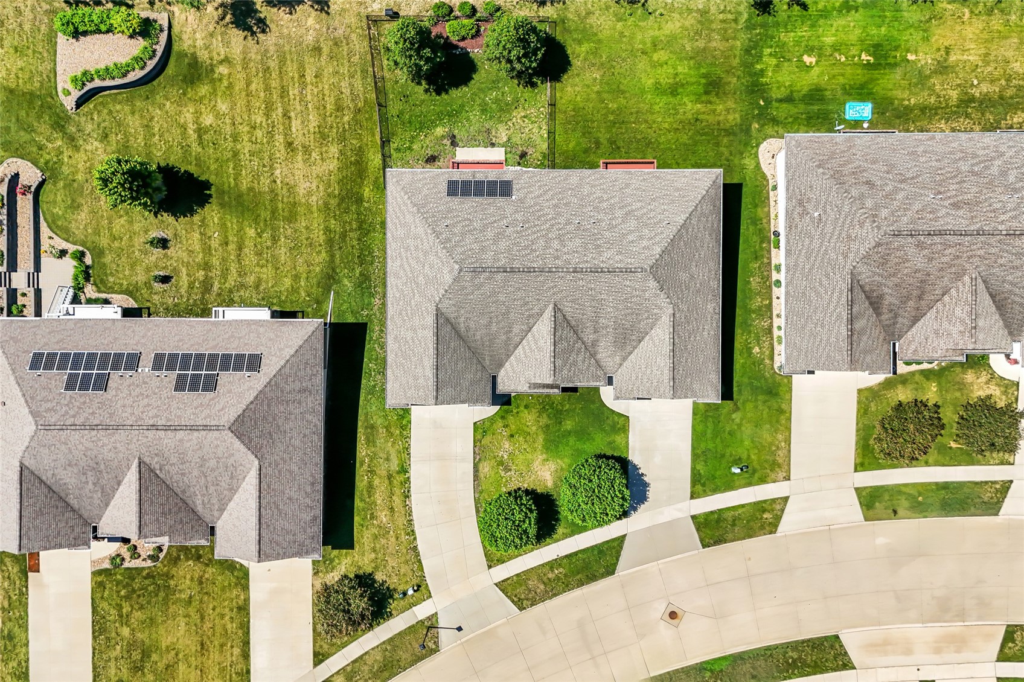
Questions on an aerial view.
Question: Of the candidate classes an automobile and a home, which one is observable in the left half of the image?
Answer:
home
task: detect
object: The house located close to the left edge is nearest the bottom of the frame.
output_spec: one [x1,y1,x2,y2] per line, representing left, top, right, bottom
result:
[0,318,329,565]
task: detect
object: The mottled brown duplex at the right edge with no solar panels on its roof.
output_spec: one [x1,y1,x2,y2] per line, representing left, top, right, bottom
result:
[772,132,1024,376]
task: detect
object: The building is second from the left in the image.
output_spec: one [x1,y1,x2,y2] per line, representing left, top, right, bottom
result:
[384,168,723,408]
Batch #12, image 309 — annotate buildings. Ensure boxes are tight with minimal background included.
[384,168,723,408]
[0,318,329,565]
[772,132,1024,376]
